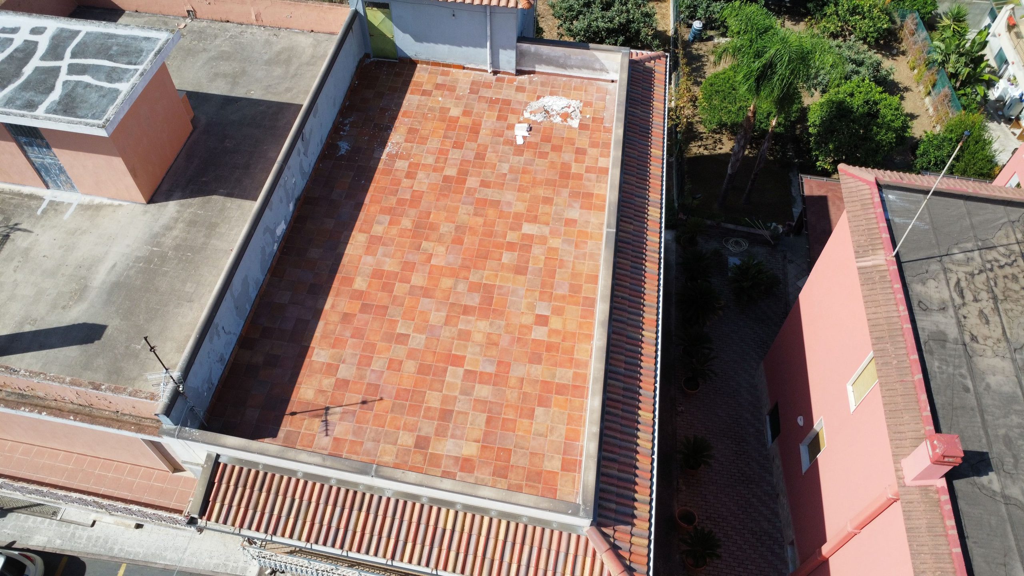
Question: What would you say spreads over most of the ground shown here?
buildings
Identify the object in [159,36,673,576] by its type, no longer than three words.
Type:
house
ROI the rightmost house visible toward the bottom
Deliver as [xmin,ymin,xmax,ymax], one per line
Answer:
[763,157,1024,576]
